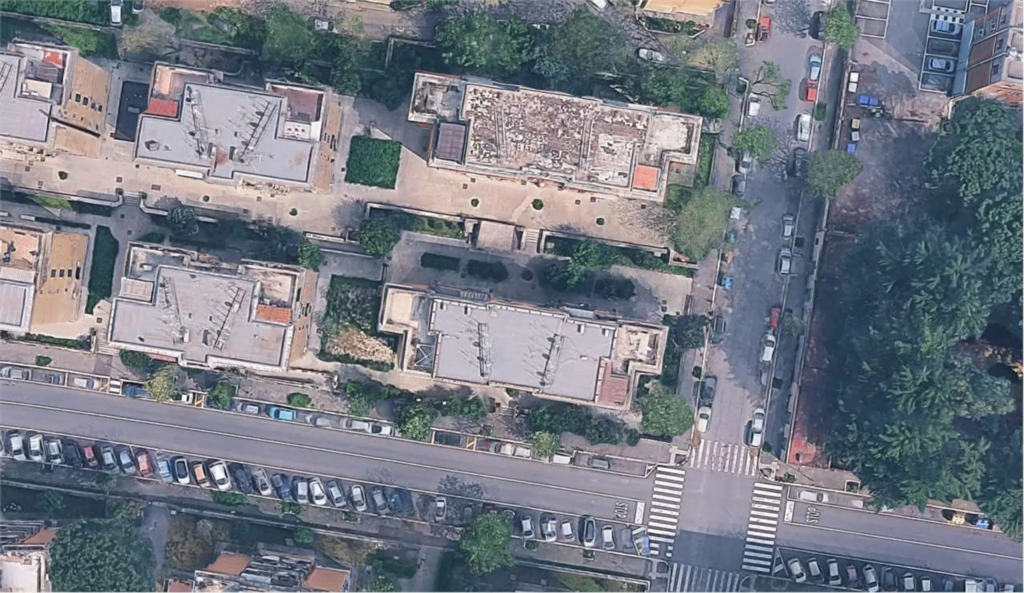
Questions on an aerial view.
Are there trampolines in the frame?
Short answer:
No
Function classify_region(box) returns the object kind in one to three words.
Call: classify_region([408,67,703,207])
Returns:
building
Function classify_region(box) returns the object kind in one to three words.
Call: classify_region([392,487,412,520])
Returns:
car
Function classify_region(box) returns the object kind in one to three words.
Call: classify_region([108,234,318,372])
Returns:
building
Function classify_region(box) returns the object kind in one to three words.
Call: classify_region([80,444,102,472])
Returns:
car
